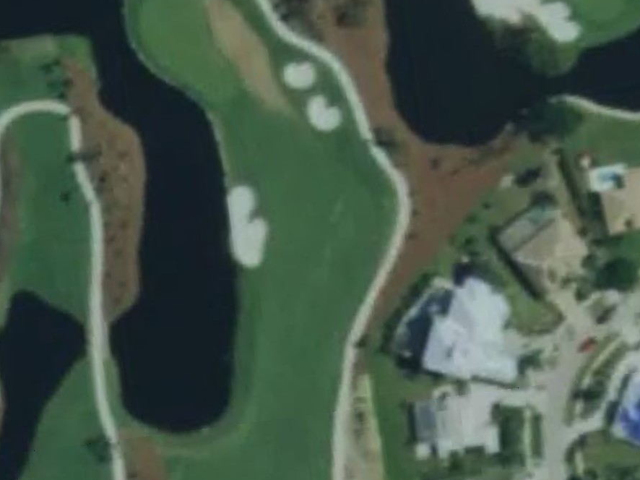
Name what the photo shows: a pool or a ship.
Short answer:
pool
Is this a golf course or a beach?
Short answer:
golf course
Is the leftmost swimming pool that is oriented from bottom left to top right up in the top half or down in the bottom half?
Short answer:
bottom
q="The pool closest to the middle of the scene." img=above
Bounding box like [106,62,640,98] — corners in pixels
[397,287,451,363]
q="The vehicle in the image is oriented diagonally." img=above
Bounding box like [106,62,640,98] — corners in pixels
[579,338,596,352]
